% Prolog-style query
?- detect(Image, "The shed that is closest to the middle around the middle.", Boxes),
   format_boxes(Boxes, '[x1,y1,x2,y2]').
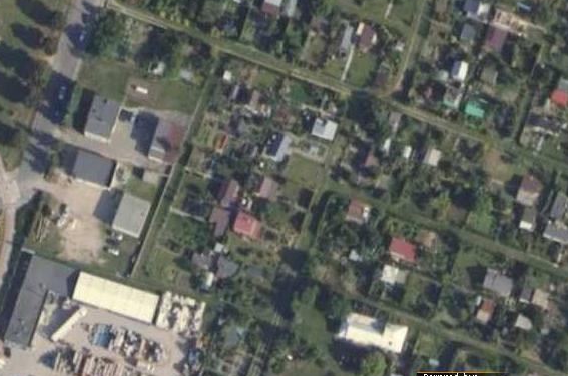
[257,175,281,199]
